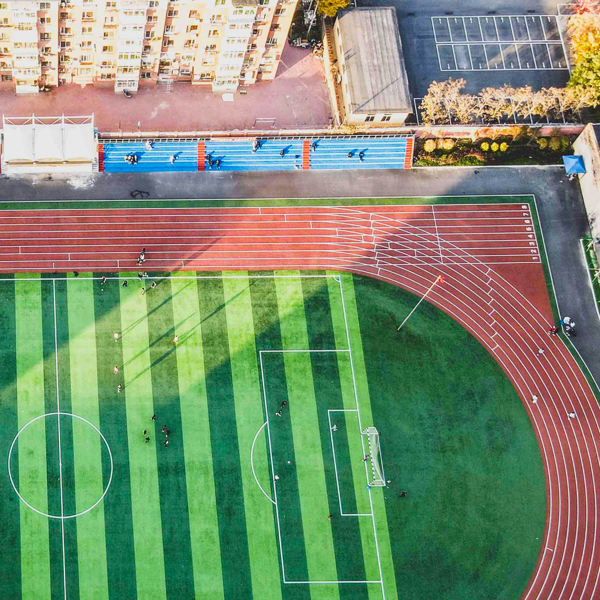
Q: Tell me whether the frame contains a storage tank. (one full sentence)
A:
No, I can see no storage tank in this picture.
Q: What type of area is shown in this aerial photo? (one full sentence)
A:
What you see here is a sports ground.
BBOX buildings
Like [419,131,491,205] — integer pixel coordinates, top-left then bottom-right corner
[574,122,600,237]
[332,7,412,124]
[0,0,300,97]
